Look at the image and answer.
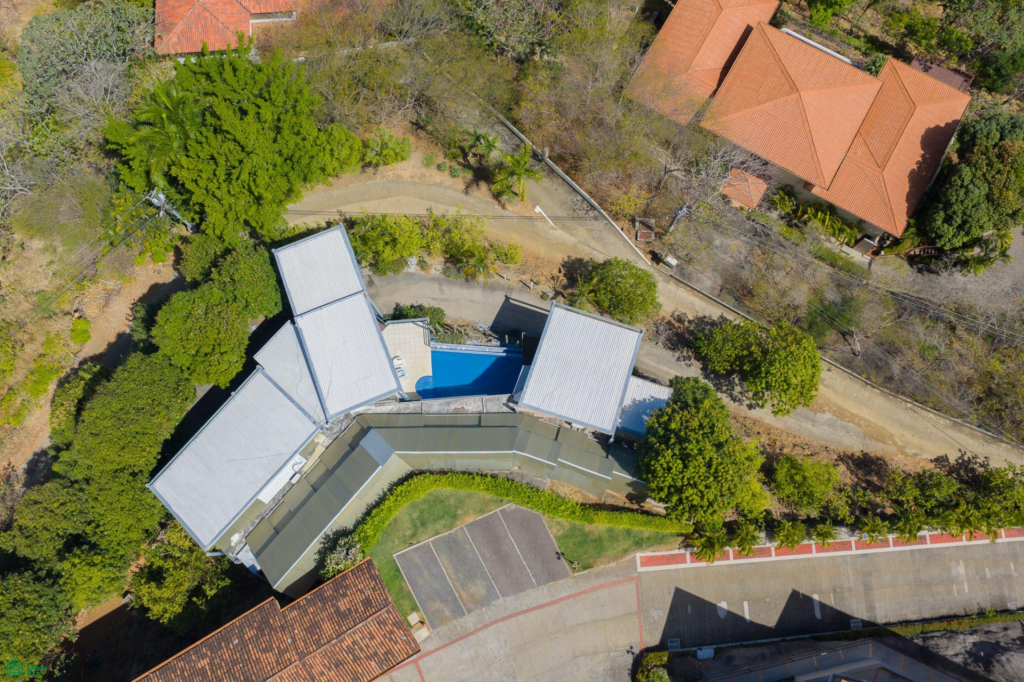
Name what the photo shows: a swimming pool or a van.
swimming pool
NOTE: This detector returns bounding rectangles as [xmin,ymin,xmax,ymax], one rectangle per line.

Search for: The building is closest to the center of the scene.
[510,298,673,444]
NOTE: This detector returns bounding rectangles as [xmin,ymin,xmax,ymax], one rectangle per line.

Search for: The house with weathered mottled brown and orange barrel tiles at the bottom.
[128,558,420,682]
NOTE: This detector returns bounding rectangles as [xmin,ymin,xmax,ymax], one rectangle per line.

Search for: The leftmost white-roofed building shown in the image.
[143,220,411,555]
